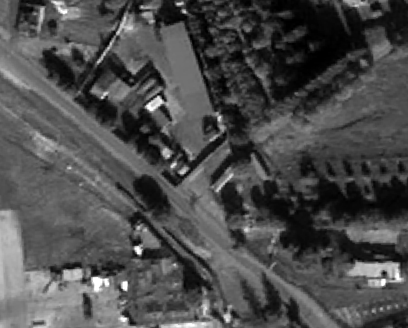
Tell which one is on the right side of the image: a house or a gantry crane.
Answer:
house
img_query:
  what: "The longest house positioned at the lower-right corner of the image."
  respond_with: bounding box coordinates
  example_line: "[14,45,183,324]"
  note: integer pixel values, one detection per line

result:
[348,262,401,279]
